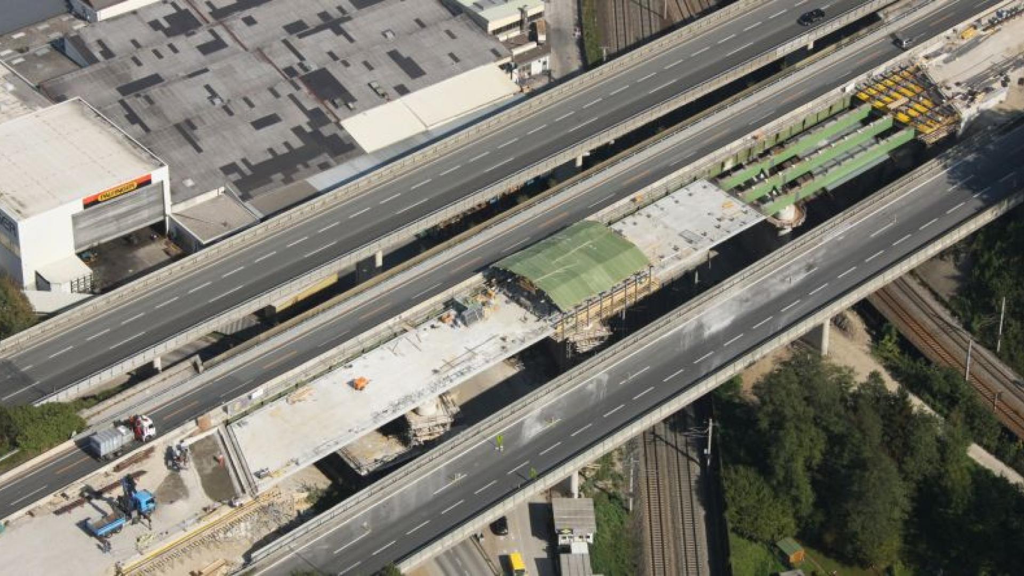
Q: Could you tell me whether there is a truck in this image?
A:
Yes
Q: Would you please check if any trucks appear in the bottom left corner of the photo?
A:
Yes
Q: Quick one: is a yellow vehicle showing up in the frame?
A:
Yes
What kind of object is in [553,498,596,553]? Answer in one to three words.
house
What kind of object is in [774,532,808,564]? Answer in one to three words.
shed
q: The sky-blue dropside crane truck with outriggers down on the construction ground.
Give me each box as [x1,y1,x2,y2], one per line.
[87,472,156,537]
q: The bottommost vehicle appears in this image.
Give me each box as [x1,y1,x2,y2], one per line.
[508,550,530,576]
